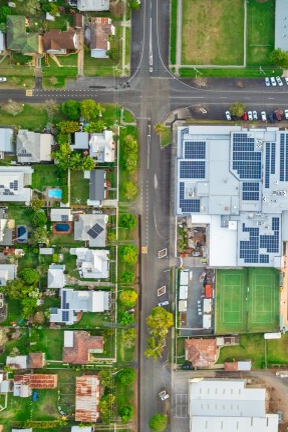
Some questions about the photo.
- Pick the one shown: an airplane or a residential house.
residential house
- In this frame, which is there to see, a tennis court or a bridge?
tennis court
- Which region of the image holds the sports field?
top right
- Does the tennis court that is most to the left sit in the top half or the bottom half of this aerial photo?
bottom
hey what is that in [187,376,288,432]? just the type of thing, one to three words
building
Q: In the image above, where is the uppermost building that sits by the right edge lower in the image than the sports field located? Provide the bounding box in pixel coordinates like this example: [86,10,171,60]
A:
[176,125,288,267]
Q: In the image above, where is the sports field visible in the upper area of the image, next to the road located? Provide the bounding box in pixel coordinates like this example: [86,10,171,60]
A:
[182,0,243,63]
